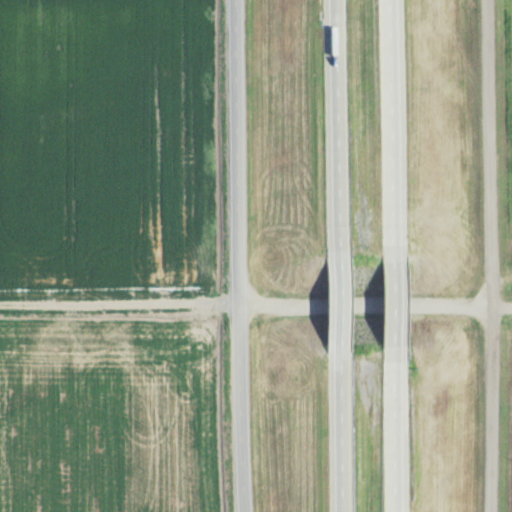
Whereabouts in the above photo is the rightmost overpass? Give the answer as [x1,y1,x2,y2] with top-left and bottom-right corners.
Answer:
[382,256,410,359]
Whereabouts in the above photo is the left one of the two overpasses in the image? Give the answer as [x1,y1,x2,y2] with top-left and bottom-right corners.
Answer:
[326,256,353,359]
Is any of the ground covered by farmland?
Yes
